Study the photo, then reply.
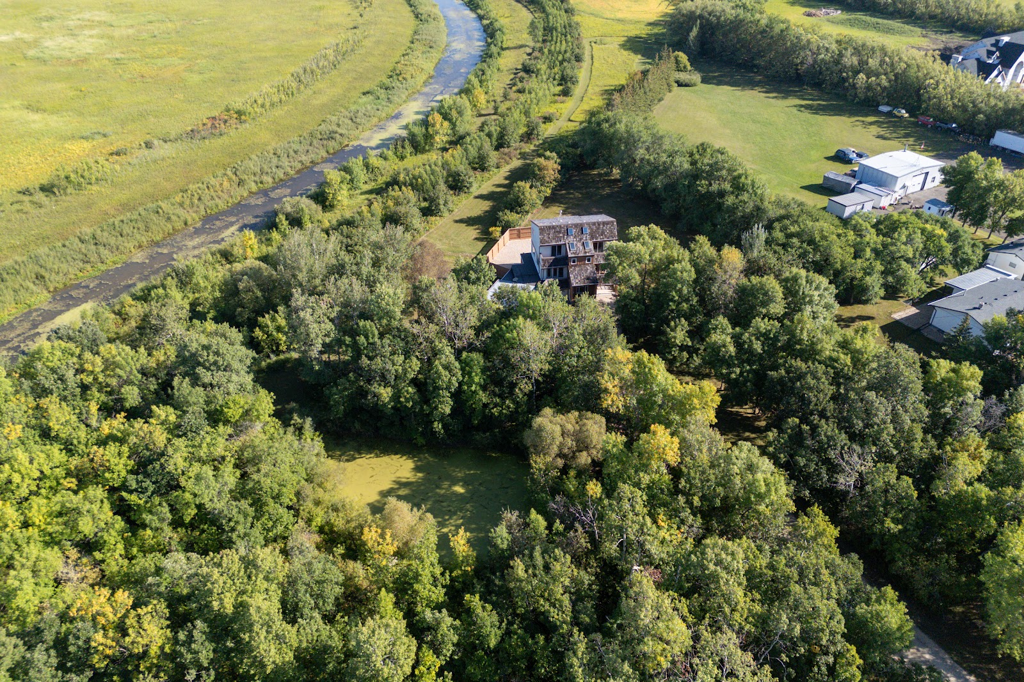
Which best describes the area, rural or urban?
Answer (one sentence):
This place is rural.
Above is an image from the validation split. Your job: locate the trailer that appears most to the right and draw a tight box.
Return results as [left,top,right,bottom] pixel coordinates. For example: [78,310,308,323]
[987,127,1024,152]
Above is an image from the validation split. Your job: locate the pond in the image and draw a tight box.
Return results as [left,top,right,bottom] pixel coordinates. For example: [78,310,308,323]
[295,414,533,627]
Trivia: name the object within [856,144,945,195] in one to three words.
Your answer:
building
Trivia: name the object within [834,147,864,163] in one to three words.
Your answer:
car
